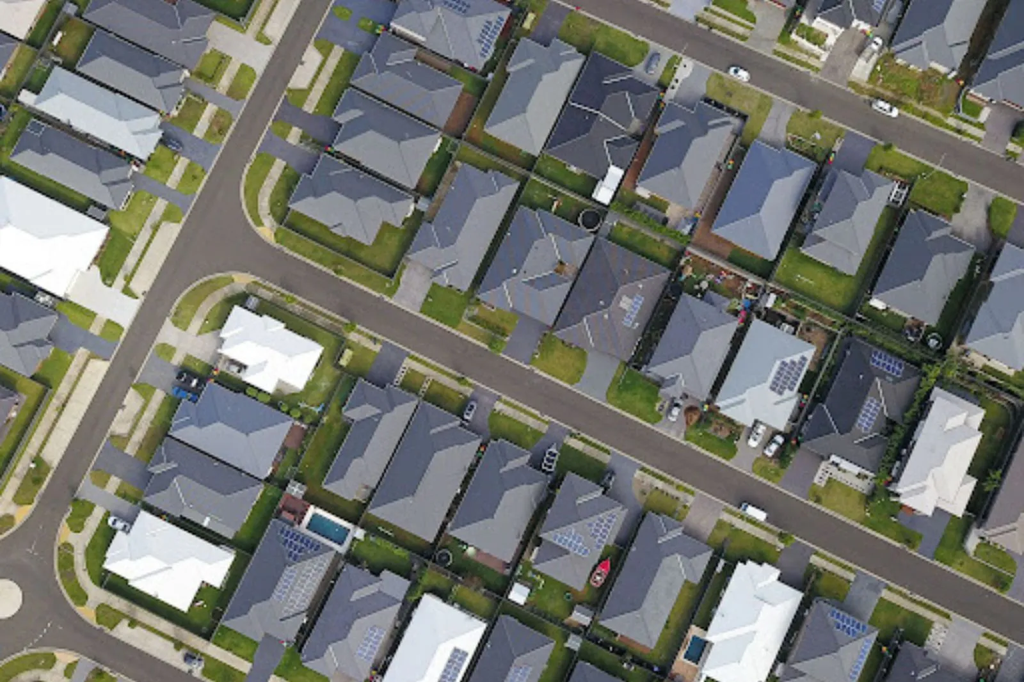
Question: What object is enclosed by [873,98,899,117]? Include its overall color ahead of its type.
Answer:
white car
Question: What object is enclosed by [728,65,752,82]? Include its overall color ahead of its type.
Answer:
white car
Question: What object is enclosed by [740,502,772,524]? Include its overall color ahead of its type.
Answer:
white truck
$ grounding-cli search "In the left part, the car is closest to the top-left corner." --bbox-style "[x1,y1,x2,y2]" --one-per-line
[162,133,184,152]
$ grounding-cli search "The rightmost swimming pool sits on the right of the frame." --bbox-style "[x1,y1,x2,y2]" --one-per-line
[681,632,711,668]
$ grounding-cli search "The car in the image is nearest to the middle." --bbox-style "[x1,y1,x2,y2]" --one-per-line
[462,399,478,423]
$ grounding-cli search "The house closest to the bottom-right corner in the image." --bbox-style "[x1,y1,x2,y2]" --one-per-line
[880,642,977,682]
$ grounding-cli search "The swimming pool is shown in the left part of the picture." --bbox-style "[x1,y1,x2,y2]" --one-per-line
[299,505,356,554]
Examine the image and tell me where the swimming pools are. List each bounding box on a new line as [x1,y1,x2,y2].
[299,505,356,554]
[681,632,711,668]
